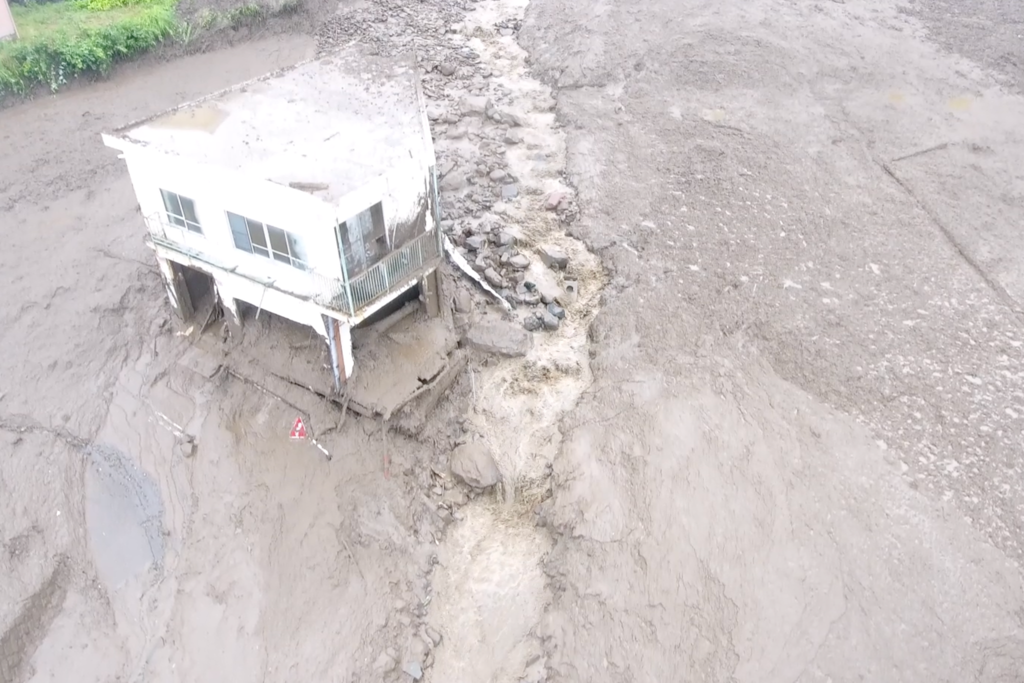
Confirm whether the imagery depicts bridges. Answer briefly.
No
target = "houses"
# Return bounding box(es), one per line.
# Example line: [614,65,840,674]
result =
[0,0,20,40]
[99,41,476,441]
